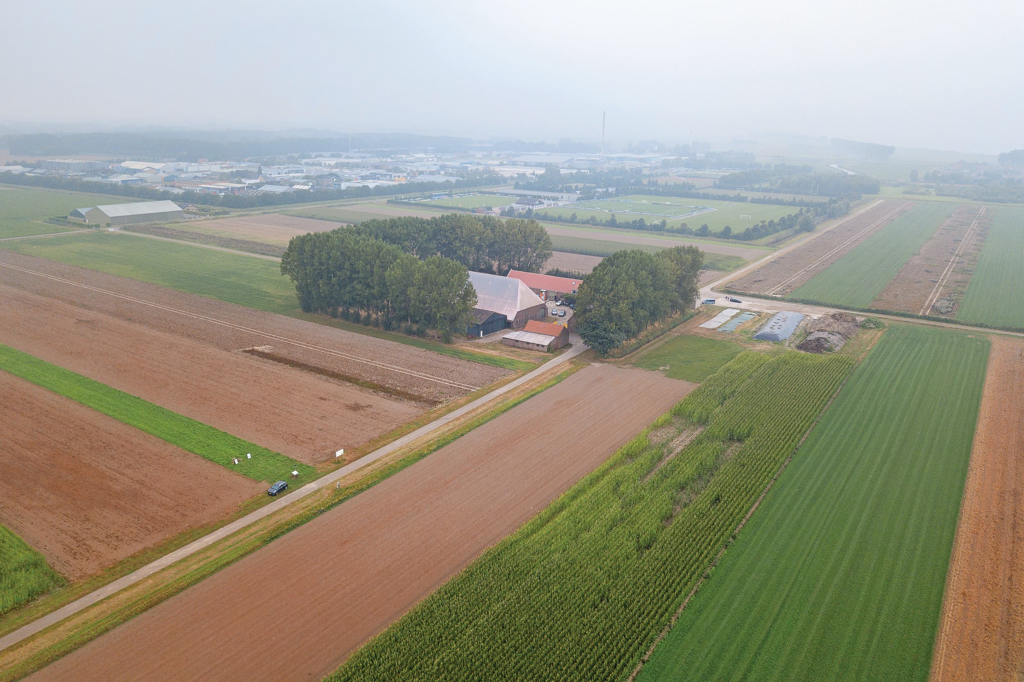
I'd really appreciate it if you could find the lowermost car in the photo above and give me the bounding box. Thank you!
[267,480,290,495]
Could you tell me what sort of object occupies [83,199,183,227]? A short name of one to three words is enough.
barn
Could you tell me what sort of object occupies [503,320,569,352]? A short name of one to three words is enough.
shed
